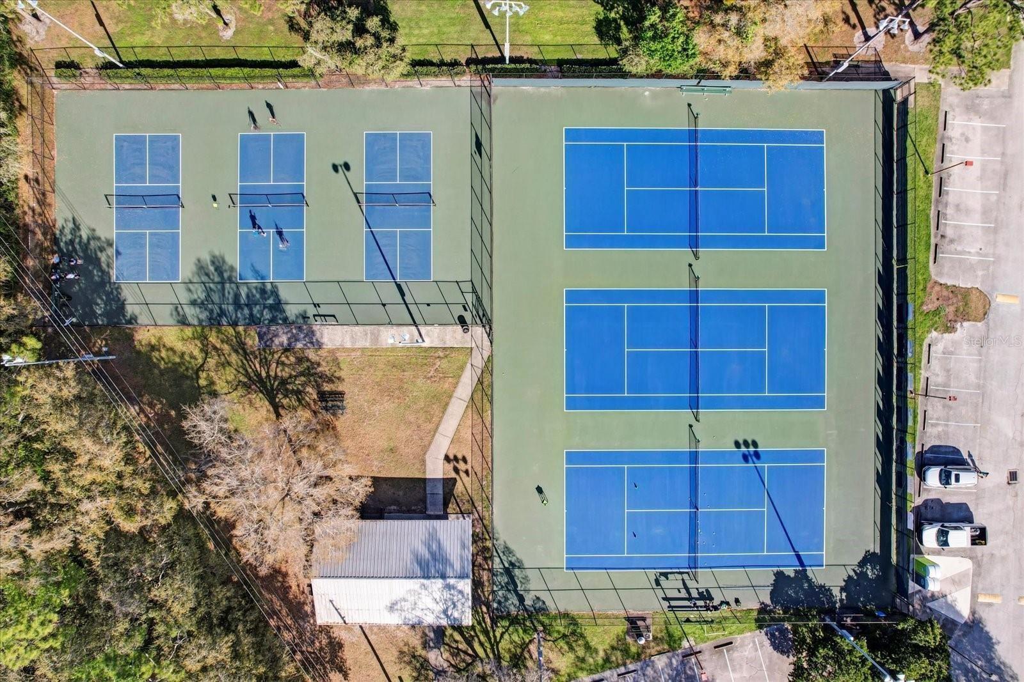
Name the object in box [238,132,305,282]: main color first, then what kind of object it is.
blue sports court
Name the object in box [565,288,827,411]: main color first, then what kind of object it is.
blue tennis court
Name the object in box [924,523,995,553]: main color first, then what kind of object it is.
white truck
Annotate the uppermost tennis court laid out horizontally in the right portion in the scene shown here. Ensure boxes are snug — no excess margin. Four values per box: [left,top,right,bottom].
[564,127,826,251]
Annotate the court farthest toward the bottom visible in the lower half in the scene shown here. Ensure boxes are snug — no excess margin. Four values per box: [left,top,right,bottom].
[564,448,827,571]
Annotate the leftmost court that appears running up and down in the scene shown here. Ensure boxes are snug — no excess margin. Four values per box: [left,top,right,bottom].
[114,133,181,282]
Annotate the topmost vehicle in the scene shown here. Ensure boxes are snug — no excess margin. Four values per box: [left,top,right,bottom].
[923,463,984,490]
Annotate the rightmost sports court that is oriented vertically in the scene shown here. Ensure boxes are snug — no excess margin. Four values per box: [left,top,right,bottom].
[364,131,432,281]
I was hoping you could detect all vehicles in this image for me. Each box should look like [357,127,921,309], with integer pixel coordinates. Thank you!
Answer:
[923,463,984,490]
[924,523,995,553]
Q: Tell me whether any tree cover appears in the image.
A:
Yes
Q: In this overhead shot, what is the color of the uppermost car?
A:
white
